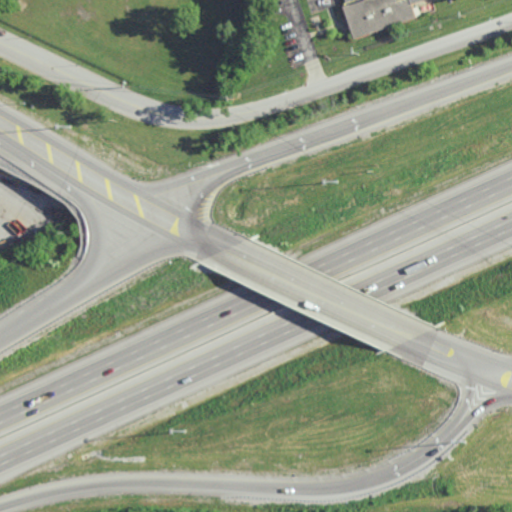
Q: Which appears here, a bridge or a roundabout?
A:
bridge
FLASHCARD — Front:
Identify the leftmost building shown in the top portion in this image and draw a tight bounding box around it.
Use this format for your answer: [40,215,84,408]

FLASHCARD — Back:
[342,0,416,38]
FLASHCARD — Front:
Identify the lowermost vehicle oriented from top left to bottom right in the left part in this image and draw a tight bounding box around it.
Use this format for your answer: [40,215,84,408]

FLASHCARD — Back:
[7,220,24,236]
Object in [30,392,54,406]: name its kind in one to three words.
vehicle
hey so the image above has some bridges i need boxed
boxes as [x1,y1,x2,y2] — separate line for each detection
[187,232,446,357]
